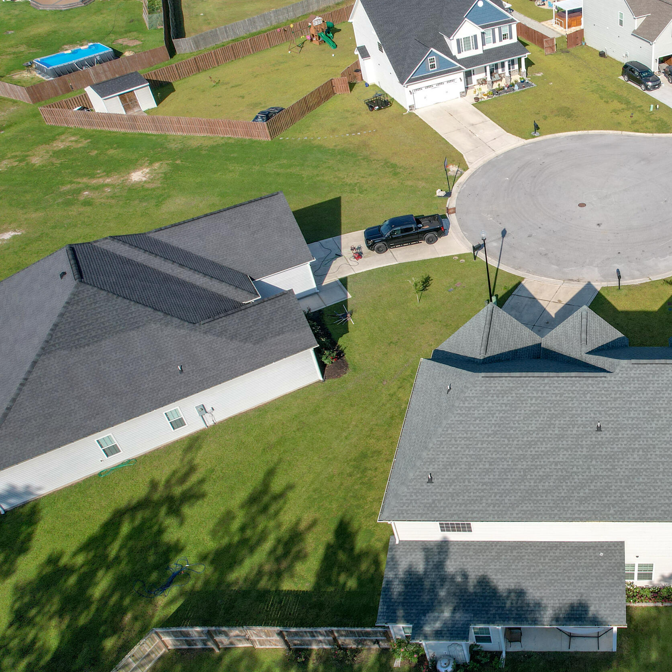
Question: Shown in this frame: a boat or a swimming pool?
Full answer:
It is a swimming pool that can be seen here.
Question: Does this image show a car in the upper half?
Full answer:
Yes, a car can be seen in the upper half.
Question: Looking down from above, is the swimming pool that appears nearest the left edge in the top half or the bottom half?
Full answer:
The swimming pool that appears nearest the left edge sits in the top half of the picture.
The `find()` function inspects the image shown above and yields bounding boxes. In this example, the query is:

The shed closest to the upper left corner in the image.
[85,65,157,112]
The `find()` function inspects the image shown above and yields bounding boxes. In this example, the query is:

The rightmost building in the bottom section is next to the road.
[373,301,672,666]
